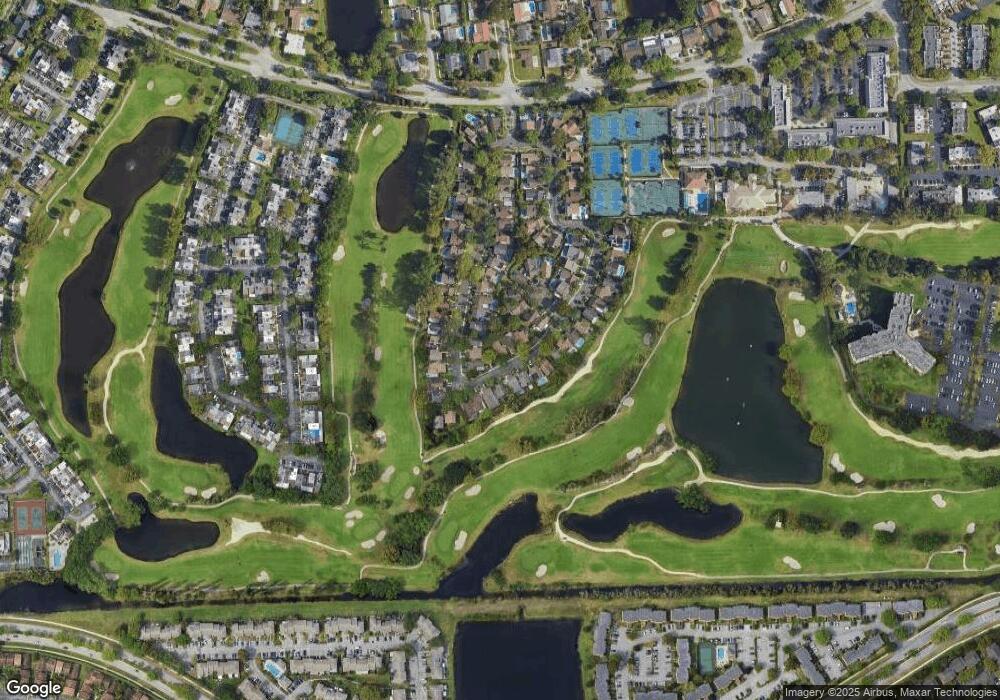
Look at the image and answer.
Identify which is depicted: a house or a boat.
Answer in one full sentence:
The one in the frame is a house.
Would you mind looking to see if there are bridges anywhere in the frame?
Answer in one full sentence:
No, no bridge can be seen from above.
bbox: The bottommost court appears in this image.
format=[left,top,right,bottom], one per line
[698,643,714,674]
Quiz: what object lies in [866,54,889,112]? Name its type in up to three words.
building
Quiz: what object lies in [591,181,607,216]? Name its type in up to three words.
tennis court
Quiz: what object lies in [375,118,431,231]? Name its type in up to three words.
pond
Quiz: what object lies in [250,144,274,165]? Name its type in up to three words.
swimming pool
